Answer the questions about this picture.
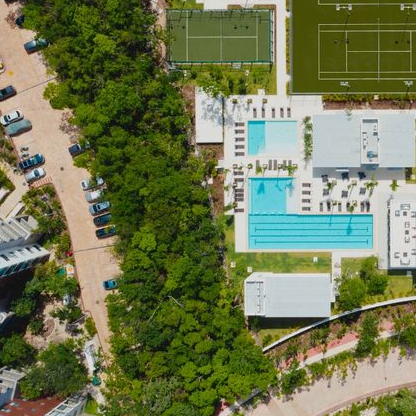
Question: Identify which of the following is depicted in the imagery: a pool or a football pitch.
pool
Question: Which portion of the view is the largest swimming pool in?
right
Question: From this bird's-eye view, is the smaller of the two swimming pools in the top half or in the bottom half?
top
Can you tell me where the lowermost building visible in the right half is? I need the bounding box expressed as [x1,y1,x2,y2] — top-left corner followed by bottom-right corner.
[245,272,332,318]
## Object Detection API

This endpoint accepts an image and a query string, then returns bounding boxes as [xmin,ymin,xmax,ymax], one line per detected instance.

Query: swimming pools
[246,120,299,156]
[247,176,374,250]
